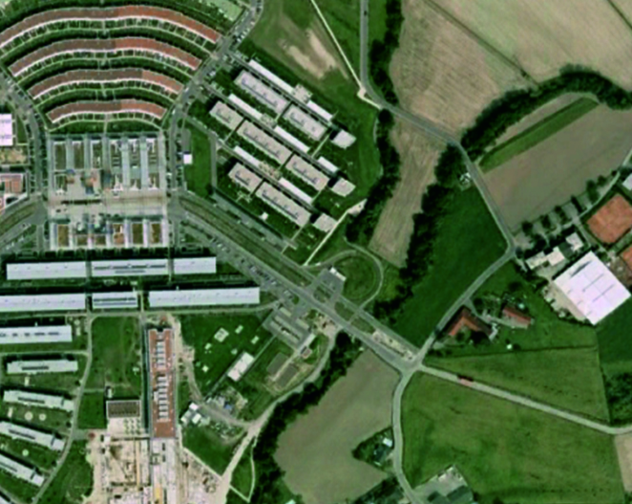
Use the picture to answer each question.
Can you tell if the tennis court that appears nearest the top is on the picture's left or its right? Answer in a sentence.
You can find the tennis court that appears nearest the top on the right side of the picture.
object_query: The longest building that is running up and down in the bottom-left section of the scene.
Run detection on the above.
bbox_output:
[149,328,176,438]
